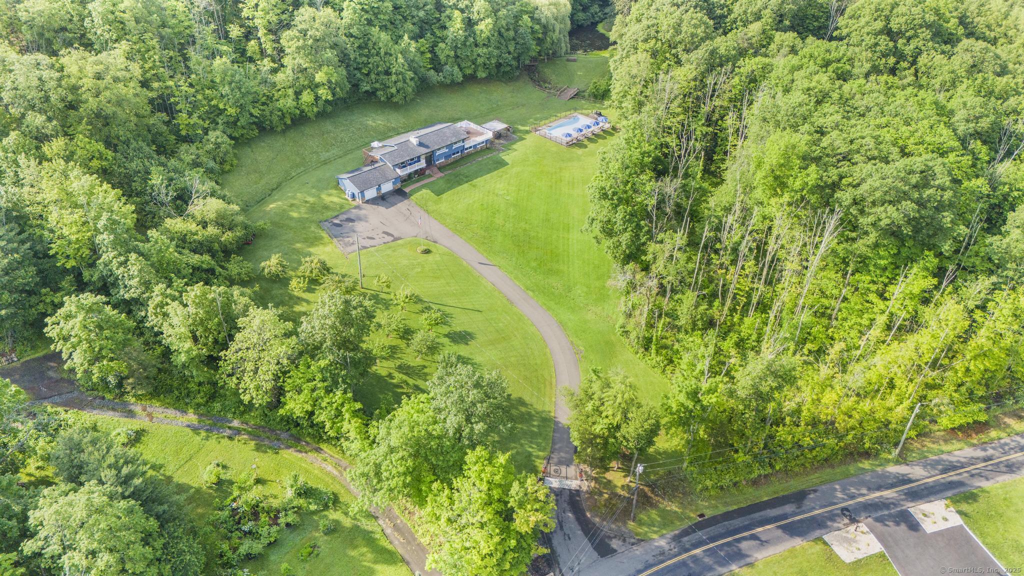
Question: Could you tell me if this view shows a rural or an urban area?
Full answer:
This place is rural.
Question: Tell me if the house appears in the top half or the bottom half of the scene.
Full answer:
Seen from above, the house lies in the top half of the view.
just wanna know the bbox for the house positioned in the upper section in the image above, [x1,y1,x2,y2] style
[333,120,493,203]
